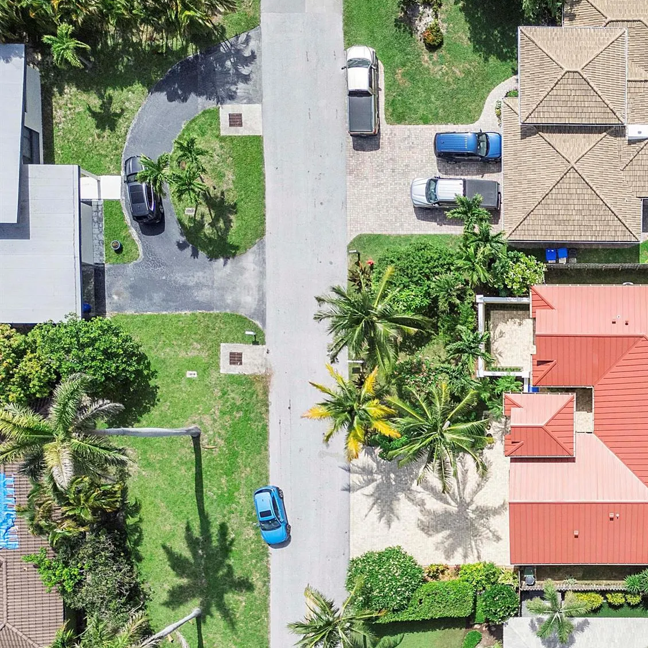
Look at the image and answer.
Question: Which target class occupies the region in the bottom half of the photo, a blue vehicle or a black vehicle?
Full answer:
You can see a blue vehicle in the bottom half of the photo.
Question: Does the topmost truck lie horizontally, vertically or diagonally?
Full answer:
In this picture, the topmost truck is oriented vertically.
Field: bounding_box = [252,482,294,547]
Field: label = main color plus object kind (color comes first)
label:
blue car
